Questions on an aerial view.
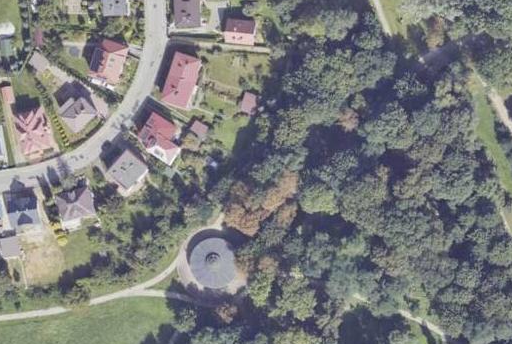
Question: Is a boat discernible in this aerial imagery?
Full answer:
No, no boat is visible in the scene.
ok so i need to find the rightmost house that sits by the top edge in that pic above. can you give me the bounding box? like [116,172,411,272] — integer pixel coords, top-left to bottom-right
[222,17,257,48]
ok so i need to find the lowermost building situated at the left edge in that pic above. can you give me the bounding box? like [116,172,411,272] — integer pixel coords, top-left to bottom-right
[0,235,22,258]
